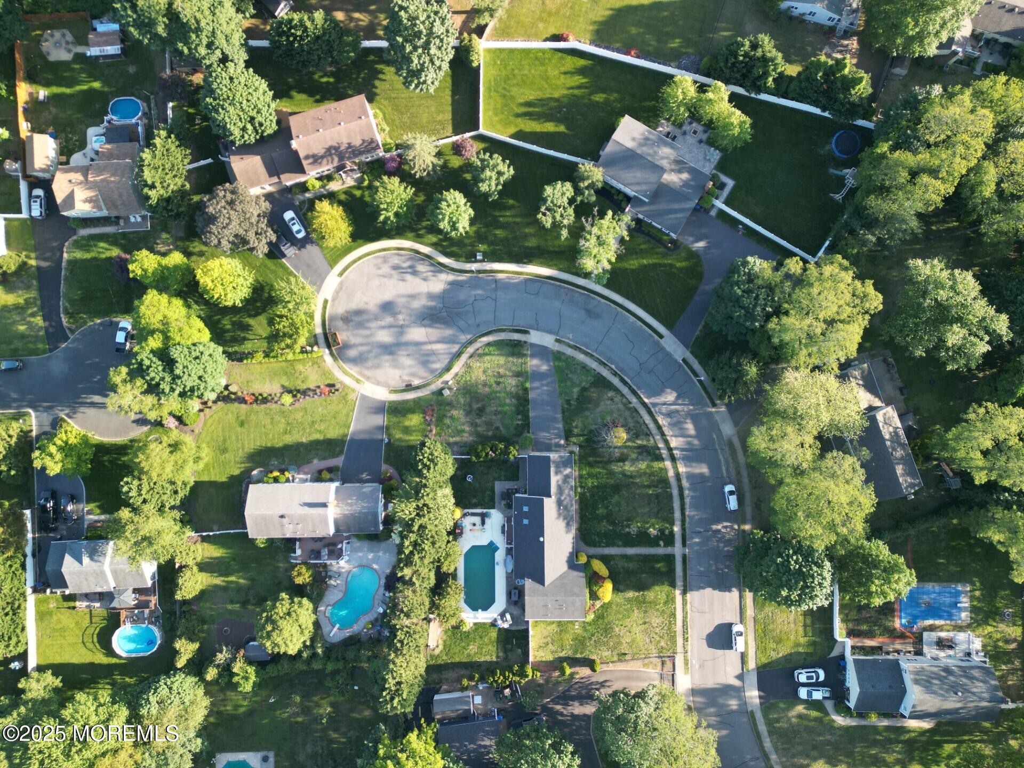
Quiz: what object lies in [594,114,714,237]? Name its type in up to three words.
house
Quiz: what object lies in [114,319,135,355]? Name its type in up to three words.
truck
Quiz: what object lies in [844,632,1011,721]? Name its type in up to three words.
house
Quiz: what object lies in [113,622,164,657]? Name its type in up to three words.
swimming pool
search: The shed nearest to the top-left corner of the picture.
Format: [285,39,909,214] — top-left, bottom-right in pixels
[86,31,127,62]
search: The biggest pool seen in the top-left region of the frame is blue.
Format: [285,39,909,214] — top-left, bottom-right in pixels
[107,96,147,123]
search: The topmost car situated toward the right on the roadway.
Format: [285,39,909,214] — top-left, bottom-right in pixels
[722,483,739,512]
